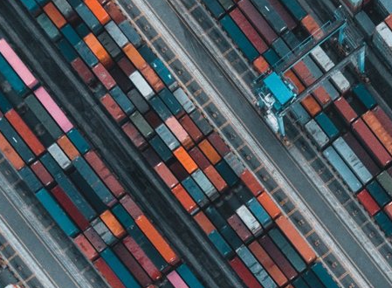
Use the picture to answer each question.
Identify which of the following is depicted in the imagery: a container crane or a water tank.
container crane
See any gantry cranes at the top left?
No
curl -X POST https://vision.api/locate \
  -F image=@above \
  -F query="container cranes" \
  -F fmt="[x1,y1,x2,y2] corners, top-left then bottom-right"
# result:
[240,17,371,146]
